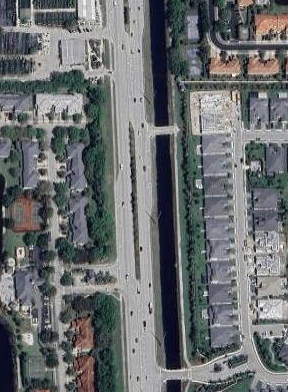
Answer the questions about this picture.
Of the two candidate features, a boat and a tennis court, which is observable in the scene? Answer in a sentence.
Visible in the photo is a tennis court.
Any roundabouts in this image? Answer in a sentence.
No, this view has no roundabout in it.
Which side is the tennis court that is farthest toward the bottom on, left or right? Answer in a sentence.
The tennis court that is farthest toward the bottom appears in the left half of the scene.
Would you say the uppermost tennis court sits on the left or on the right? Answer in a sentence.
The uppermost tennis court appears in the left half of the scene.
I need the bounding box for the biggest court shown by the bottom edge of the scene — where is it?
[27,354,48,379]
